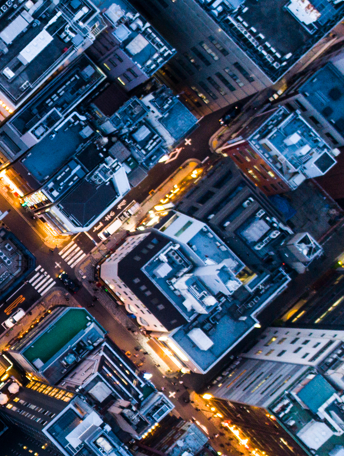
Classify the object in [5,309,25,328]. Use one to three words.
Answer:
car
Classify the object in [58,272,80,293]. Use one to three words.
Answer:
car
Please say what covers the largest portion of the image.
buildings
